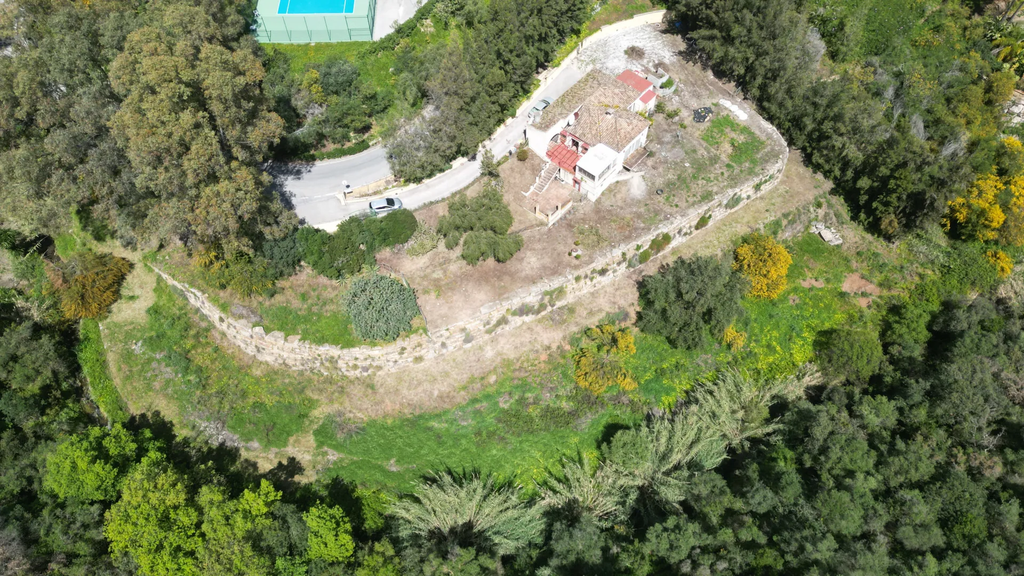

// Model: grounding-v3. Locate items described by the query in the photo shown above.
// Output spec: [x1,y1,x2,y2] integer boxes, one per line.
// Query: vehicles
[529,98,553,119]
[370,196,405,215]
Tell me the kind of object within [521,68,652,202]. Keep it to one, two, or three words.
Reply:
house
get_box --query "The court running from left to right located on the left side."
[258,0,376,46]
